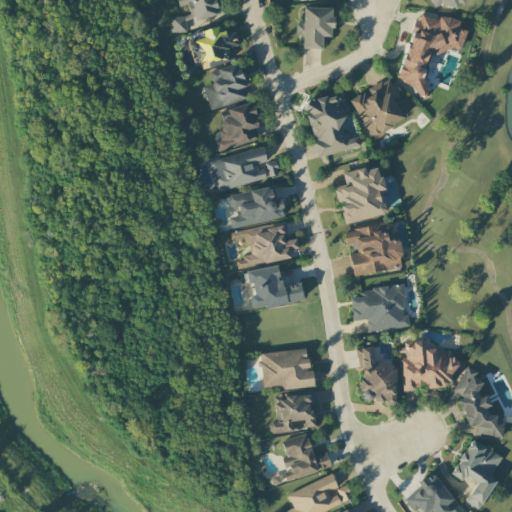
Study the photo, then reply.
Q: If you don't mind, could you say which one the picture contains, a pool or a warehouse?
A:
pool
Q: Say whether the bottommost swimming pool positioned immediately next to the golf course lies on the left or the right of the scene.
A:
right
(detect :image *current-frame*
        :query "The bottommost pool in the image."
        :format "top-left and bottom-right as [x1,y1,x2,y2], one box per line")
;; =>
[262,454,286,479]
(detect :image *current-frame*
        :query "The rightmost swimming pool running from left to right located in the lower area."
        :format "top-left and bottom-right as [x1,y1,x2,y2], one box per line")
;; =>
[421,330,460,349]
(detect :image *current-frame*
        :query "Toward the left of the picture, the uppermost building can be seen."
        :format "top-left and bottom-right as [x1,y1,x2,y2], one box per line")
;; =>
[172,0,222,34]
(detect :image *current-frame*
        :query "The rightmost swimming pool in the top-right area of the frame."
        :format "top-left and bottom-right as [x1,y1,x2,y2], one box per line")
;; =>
[426,50,462,90]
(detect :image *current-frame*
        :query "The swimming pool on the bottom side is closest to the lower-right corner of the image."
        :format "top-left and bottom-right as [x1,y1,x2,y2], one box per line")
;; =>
[486,372,512,422]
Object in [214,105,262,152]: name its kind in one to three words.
house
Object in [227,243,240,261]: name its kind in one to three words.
swimming pool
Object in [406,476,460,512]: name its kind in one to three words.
house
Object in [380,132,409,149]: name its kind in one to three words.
swimming pool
